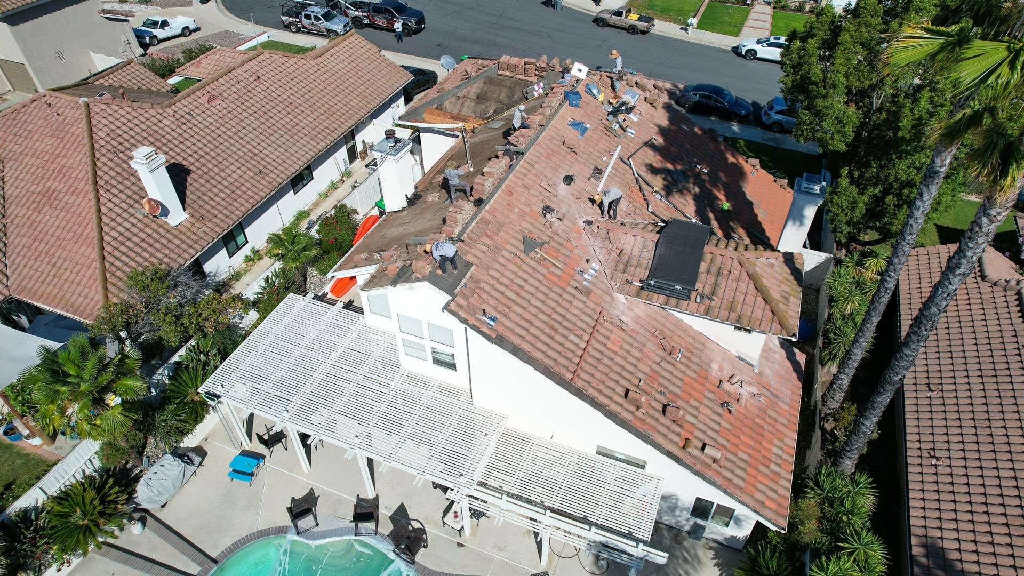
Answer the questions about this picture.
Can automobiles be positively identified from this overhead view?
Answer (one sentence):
Yes, looking at the shot, I can spot an automobile.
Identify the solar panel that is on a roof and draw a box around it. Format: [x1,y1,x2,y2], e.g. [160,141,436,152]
[629,217,715,300]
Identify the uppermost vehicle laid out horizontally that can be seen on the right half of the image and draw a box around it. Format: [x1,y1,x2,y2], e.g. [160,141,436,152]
[594,5,654,35]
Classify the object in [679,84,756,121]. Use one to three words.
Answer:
car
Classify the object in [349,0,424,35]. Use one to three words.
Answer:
truck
